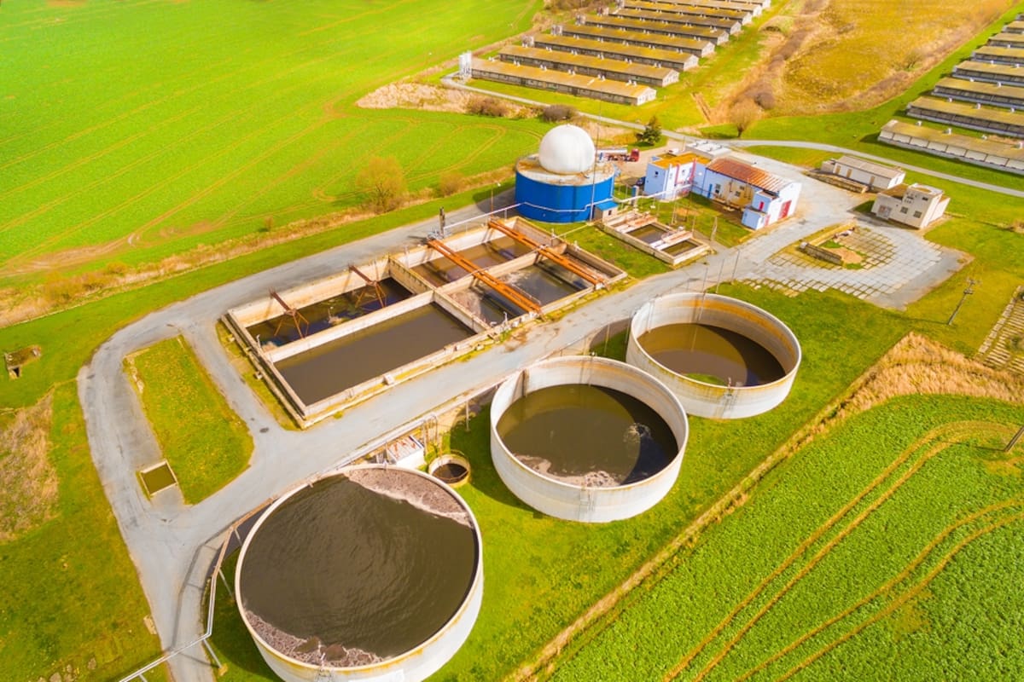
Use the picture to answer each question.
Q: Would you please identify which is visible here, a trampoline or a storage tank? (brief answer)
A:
storage tank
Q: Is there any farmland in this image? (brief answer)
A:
Yes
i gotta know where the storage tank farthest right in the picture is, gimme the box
[627,289,801,420]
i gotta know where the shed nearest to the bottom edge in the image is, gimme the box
[384,431,425,467]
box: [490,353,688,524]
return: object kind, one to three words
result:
storage tank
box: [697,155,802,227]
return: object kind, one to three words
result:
building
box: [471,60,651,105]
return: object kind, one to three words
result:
barn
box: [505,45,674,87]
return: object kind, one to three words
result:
barn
